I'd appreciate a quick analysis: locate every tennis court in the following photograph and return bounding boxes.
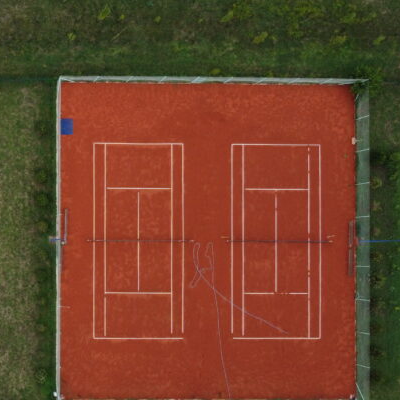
[208,82,357,400]
[57,82,208,400]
